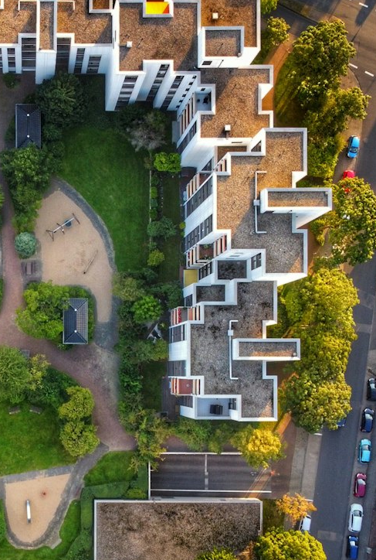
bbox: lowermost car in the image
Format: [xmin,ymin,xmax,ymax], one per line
[344,535,359,559]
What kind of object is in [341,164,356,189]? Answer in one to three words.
car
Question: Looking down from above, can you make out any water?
No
